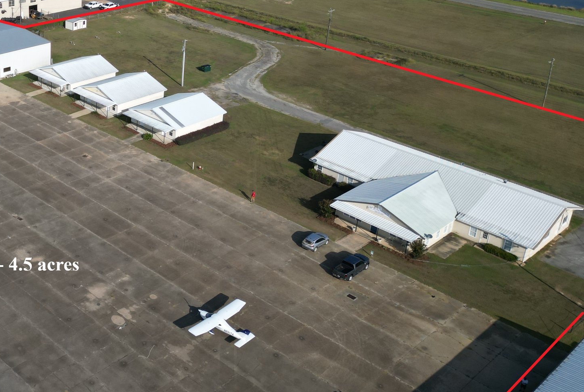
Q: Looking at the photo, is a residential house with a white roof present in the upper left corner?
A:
Yes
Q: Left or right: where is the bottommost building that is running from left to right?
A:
right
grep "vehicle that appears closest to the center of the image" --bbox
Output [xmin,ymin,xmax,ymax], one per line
[302,233,330,250]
